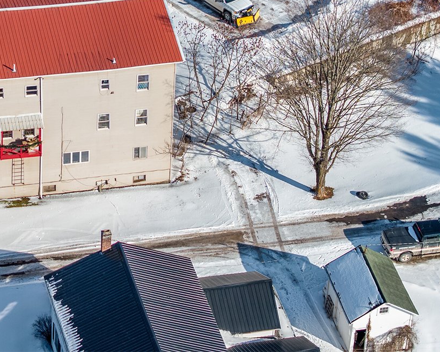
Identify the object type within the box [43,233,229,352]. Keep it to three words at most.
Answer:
house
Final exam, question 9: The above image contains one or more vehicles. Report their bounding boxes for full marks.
[192,0,251,21]
[380,220,440,263]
